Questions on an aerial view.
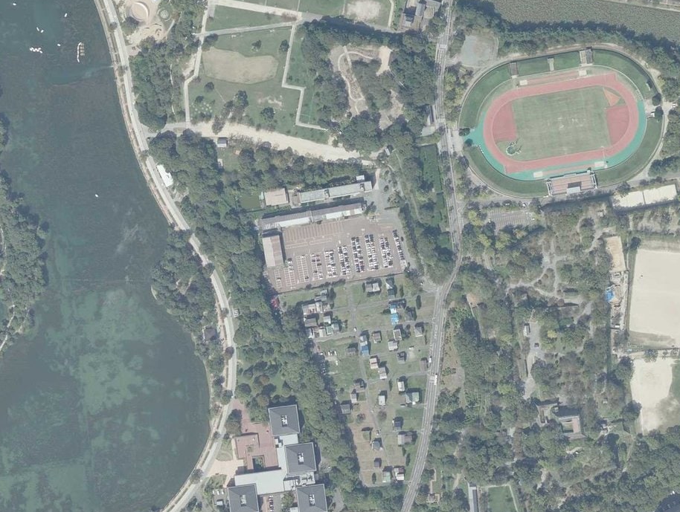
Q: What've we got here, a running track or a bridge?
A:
running track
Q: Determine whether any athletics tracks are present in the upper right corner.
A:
Yes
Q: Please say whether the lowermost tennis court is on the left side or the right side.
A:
right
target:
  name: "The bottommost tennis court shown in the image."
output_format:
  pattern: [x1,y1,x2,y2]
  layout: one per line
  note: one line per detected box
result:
[606,236,626,270]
